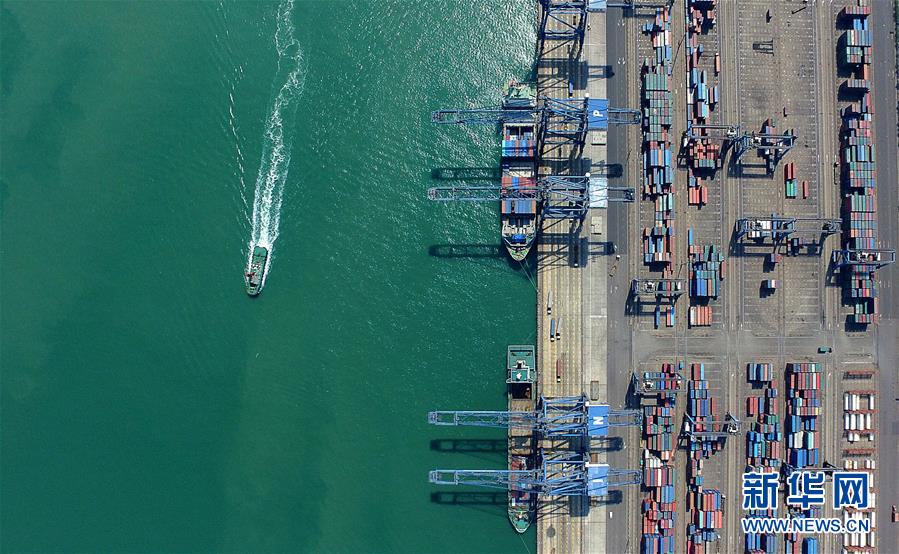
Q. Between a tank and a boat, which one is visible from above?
boat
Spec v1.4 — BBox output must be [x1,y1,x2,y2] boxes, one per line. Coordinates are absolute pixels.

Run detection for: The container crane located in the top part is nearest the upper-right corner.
[732,133,792,160]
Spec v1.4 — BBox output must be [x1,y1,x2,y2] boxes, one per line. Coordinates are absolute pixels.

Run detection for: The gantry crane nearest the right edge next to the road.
[830,248,895,269]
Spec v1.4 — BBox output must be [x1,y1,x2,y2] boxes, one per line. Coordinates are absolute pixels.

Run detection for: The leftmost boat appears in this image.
[244,248,270,295]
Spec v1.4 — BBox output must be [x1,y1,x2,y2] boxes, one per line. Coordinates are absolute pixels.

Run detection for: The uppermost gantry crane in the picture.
[539,0,637,44]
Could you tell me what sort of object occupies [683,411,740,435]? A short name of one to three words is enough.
container crane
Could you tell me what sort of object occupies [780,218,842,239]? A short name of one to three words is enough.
container crane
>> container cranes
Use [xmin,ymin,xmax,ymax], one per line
[780,218,842,239]
[683,411,740,435]
[734,218,795,239]
[429,442,644,498]
[680,125,737,151]
[430,94,642,151]
[428,389,644,437]
[427,172,637,221]
[539,0,637,44]
[732,133,792,160]
[630,368,684,391]
[631,277,686,298]
[830,248,895,269]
